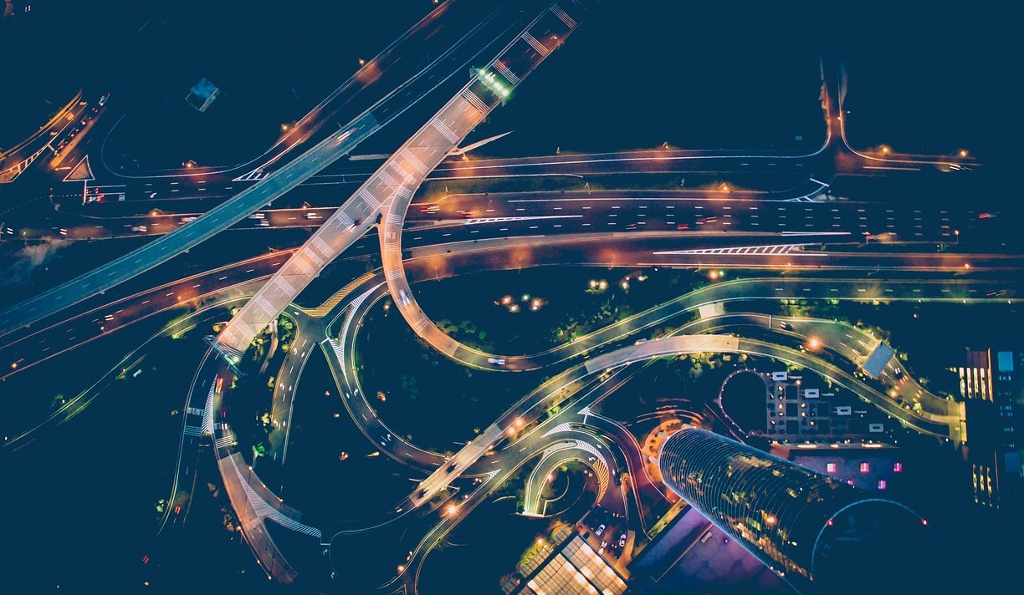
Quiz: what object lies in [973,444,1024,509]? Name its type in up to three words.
building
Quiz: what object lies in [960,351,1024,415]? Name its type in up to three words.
building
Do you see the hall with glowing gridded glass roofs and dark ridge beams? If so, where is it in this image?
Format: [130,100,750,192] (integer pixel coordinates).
[484,528,632,595]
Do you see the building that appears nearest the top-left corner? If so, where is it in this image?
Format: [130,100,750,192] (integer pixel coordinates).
[185,78,227,117]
